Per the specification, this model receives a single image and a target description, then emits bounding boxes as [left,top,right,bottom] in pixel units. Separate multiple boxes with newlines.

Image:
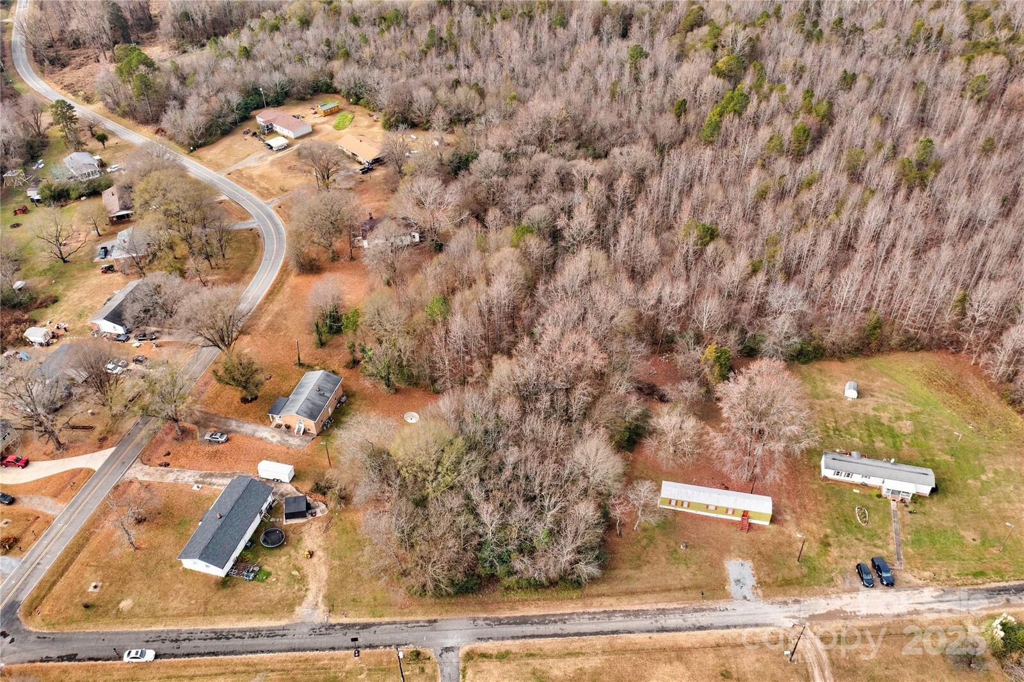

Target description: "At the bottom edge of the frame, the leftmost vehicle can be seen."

[121,648,155,664]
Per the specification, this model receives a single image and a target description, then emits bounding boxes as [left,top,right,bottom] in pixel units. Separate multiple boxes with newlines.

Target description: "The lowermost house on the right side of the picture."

[658,480,773,532]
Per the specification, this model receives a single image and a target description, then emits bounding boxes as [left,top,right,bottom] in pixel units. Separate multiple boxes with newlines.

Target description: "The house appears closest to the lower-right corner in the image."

[820,450,934,503]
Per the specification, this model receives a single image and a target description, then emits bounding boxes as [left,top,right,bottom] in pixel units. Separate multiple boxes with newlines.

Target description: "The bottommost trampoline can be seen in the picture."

[259,529,284,548]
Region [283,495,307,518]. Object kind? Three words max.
shed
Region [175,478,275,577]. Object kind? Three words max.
house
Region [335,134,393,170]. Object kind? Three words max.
house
